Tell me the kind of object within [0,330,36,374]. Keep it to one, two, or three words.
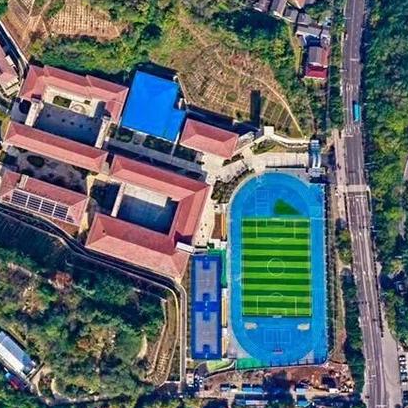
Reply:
building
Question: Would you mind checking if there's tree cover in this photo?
Yes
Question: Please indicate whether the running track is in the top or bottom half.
bottom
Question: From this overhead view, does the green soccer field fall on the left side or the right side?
right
